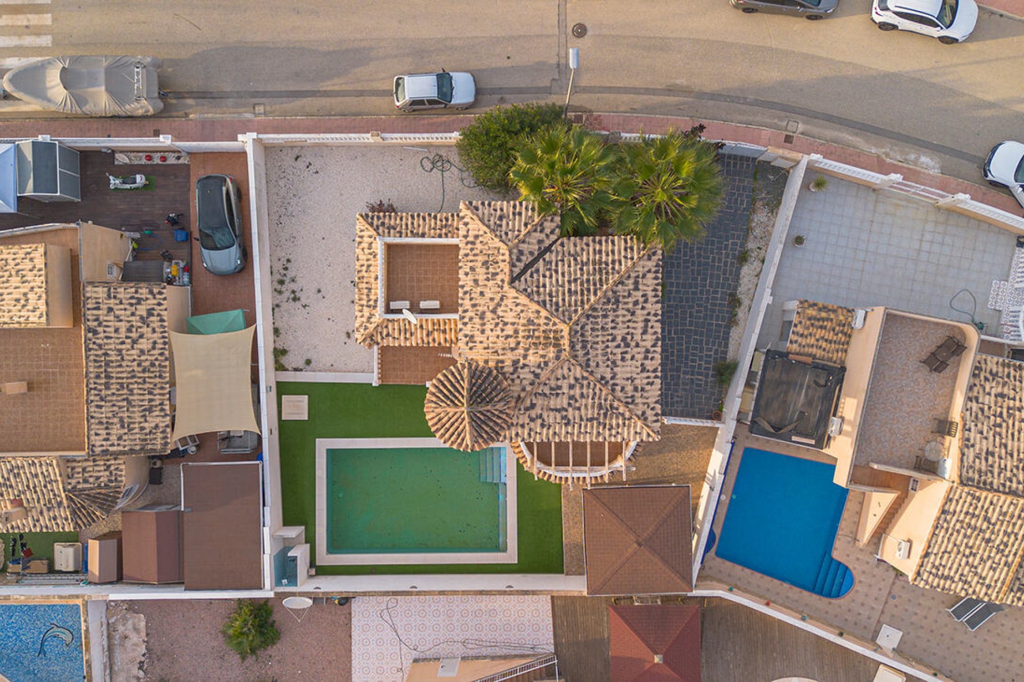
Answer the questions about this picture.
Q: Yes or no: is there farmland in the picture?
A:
No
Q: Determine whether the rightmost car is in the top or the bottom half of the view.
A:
top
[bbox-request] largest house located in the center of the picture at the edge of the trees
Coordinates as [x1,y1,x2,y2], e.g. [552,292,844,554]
[353,199,664,487]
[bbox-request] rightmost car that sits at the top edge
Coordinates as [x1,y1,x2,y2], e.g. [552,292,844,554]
[876,0,983,45]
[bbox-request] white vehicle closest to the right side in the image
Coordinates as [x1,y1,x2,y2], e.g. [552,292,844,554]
[985,142,1024,199]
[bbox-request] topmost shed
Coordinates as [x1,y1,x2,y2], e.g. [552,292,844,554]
[16,140,80,202]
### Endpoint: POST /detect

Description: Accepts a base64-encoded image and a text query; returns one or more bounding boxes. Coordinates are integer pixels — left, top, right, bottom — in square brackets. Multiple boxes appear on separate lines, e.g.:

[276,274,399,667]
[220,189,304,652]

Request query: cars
[876,0,983,45]
[195,175,248,275]
[729,0,839,20]
[985,142,1024,199]
[394,67,477,113]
